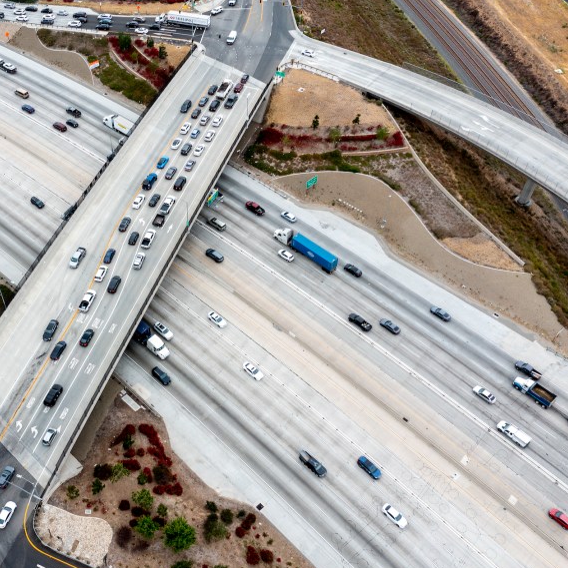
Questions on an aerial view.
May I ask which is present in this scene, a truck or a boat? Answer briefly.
truck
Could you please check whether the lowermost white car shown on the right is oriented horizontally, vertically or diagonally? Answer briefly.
diagonally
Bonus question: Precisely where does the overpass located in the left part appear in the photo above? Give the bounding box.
[0,39,269,496]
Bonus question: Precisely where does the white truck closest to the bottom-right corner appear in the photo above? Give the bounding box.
[497,420,532,447]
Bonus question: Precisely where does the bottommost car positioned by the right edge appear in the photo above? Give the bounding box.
[545,505,568,532]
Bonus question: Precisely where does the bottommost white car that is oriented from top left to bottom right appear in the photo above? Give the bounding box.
[380,503,409,530]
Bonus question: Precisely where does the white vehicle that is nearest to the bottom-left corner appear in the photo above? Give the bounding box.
[0,500,17,531]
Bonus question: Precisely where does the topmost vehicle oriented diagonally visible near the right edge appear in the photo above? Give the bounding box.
[513,358,544,382]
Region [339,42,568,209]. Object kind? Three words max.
bridge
